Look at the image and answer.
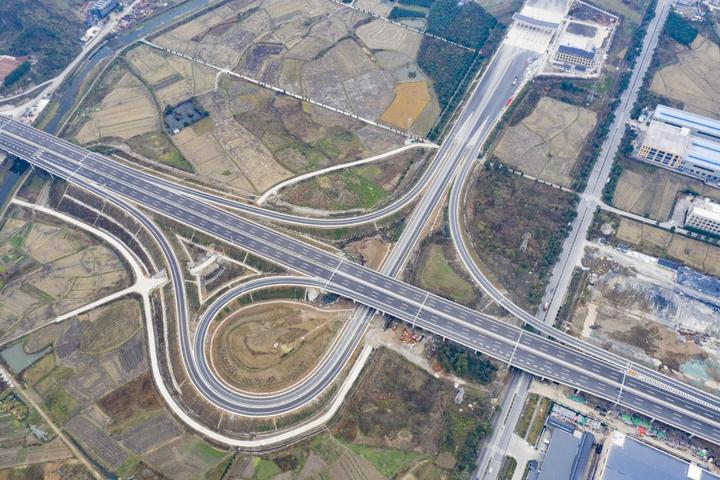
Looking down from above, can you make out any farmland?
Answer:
Yes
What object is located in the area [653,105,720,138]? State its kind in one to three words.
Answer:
shed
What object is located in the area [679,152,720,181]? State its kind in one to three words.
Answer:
shed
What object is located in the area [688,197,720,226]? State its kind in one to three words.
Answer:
building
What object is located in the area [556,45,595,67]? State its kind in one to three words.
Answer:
building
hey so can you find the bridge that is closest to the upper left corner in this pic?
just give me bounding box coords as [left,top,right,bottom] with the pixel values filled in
[0,115,98,181]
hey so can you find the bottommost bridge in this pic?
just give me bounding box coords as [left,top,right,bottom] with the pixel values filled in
[323,256,720,448]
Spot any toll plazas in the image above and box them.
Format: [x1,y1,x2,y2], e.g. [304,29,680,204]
[513,13,560,36]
